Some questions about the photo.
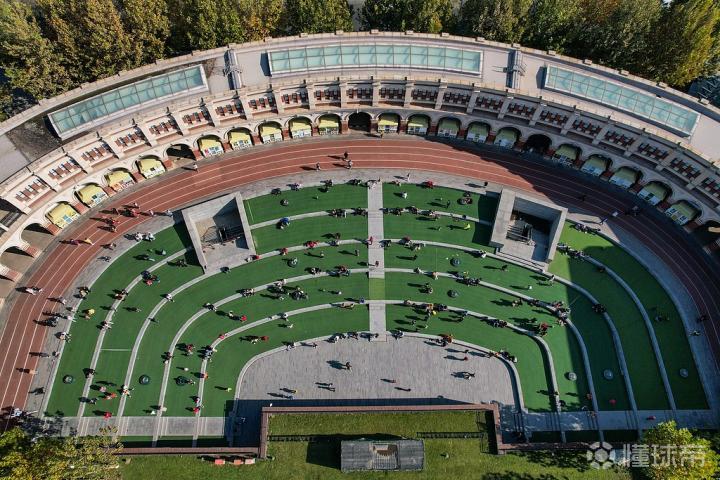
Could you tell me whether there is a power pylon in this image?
No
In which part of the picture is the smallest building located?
bottom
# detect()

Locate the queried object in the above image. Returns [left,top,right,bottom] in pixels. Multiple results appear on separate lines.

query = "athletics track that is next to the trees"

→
[0,137,720,460]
